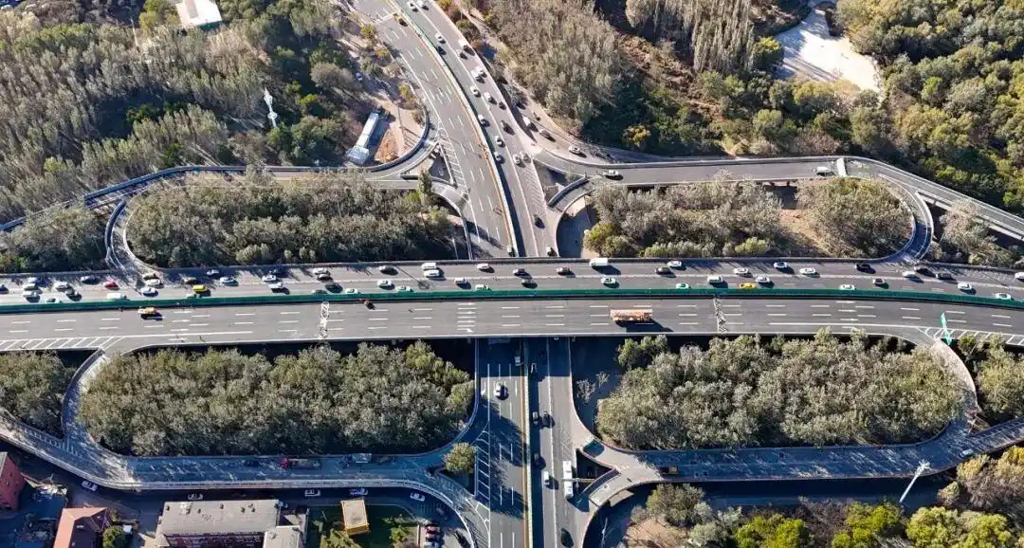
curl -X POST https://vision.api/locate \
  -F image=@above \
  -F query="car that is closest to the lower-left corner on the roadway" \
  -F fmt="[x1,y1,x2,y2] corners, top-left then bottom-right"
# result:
[81,480,97,492]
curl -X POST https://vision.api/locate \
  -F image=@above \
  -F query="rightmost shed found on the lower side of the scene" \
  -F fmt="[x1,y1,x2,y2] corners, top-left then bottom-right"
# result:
[341,499,370,535]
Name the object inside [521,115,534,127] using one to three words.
vehicle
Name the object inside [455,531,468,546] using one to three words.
vehicle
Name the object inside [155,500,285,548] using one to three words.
building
